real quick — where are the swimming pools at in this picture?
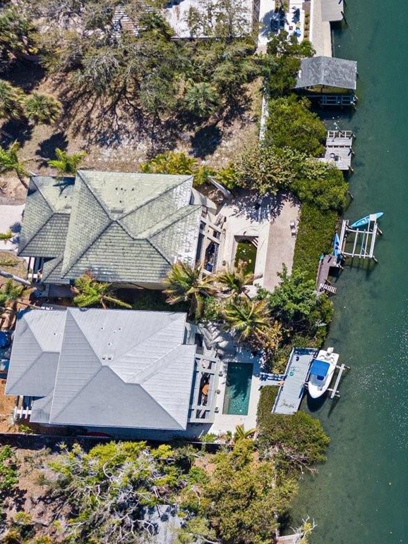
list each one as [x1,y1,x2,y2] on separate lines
[229,233,260,279]
[219,360,255,417]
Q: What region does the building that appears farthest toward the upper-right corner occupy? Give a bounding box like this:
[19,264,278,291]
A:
[296,56,362,111]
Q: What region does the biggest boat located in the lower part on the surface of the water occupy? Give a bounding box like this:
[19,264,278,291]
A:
[311,345,339,399]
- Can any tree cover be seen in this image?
Yes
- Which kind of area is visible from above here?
residential area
